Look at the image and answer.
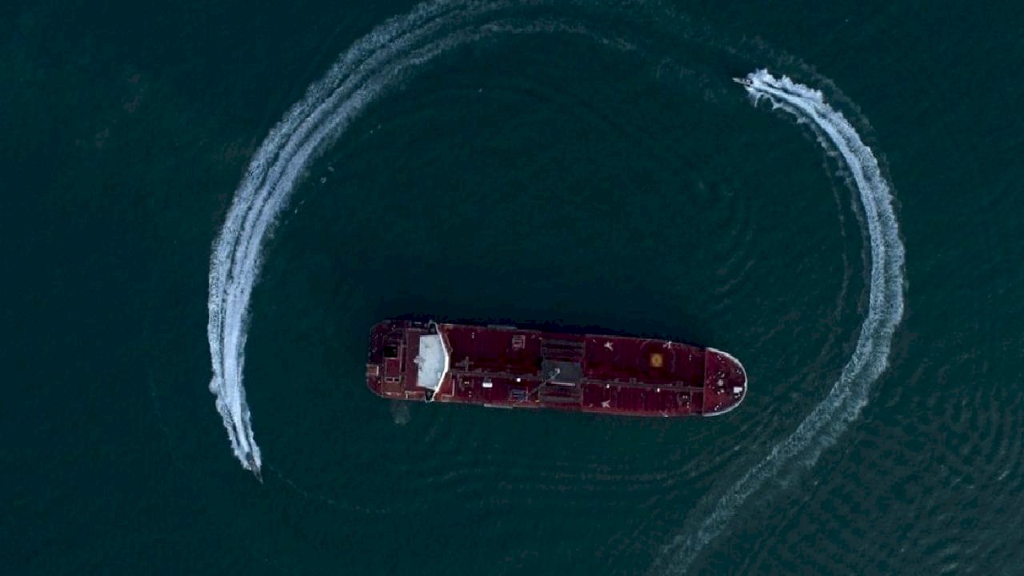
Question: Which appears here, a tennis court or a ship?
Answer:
ship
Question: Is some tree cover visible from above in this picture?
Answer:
No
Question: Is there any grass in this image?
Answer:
No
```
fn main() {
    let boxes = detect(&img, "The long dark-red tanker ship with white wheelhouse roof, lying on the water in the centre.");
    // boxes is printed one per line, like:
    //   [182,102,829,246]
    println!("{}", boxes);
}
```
[366,320,747,417]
